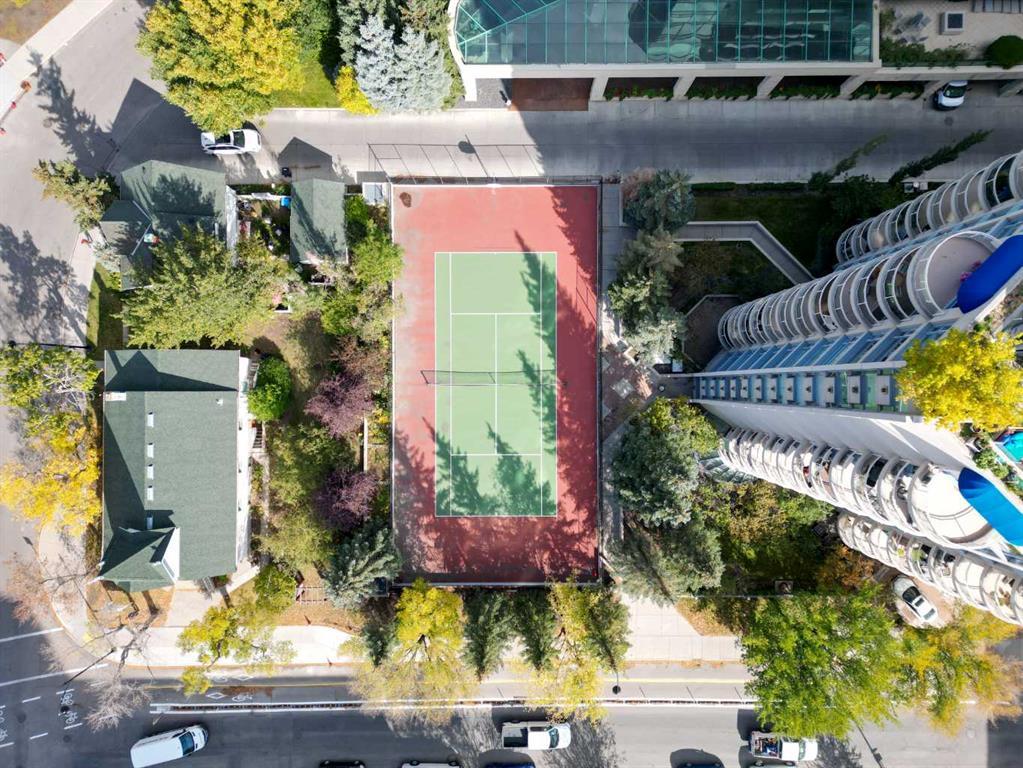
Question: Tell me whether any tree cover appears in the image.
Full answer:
Yes, there's tree cover in this view.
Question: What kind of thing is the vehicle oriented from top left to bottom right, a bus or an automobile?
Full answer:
What you see as the vehicle oriented from top left to bottom right is an automobile.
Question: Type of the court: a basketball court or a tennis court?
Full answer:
What you see as the court is a tennis court.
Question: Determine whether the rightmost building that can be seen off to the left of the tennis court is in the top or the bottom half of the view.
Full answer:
It is in the top half that the rightmost building that can be seen off to the left of the tennis court appears.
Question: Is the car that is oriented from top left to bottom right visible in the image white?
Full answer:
Yes, white is the color of the car that is oriented from top left to bottom right.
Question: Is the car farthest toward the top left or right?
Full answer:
It is on the right.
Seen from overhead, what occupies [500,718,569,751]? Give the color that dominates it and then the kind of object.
white truck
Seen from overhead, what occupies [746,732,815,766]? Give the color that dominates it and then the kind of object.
white truck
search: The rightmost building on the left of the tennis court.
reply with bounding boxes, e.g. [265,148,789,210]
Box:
[290,179,350,265]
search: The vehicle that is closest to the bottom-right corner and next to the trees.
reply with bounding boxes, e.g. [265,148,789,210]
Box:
[887,576,939,629]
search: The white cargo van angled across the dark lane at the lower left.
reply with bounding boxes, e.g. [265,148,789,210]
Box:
[127,723,211,768]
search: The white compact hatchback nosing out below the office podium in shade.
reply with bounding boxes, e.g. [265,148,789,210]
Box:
[938,79,969,112]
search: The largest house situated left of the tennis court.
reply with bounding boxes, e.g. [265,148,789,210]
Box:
[87,349,269,589]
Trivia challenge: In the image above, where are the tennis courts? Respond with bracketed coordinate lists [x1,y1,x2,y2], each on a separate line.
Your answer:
[390,182,603,585]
